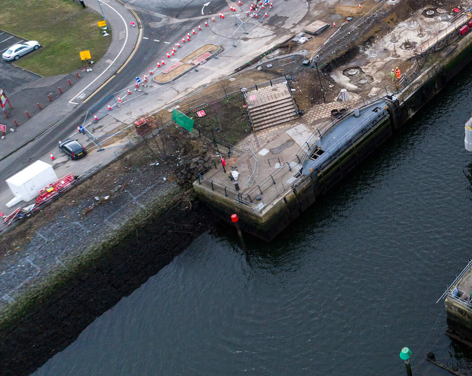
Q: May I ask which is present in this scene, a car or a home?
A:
car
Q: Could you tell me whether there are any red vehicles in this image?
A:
No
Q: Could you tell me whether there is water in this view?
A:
Yes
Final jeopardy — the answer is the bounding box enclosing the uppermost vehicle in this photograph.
[1,42,41,60]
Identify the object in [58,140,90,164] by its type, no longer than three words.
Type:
car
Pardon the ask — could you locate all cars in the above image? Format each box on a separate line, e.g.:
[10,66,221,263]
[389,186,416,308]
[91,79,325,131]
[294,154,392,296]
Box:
[1,42,41,60]
[58,140,90,164]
